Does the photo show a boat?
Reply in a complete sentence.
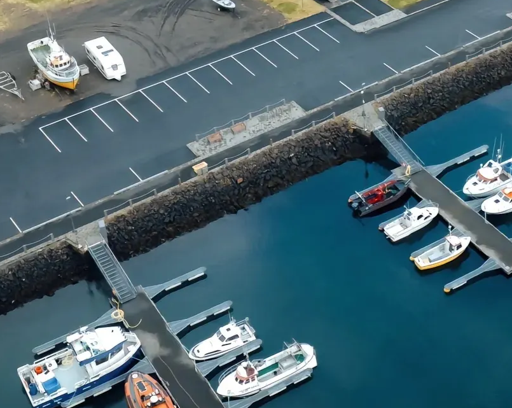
Yes, the frame does contain a boat.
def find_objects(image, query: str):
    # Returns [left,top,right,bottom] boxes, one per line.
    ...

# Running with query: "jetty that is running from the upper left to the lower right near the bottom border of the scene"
[115,287,228,408]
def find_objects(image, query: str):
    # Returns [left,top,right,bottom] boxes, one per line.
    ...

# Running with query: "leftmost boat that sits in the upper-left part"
[28,18,78,91]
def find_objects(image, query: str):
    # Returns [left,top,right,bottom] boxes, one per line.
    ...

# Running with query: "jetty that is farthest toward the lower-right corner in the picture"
[443,258,501,295]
